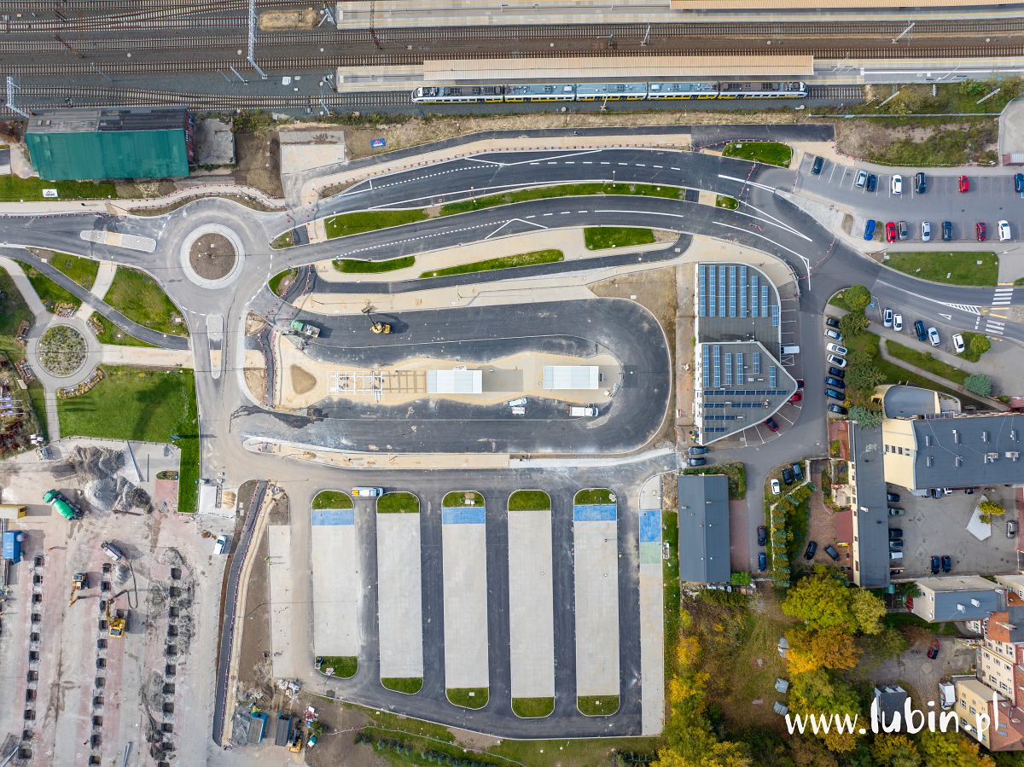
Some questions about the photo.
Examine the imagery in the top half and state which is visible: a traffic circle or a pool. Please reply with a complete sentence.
Looking in the top half, you will find a traffic circle.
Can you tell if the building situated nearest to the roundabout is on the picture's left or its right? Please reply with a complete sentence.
You can find the building situated nearest to the roundabout on the left side of the picture.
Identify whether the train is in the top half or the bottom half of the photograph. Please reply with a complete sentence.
The train sits in the top half of the picture.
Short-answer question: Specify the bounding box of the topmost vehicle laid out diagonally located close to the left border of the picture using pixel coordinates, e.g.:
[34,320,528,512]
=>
[41,487,81,519]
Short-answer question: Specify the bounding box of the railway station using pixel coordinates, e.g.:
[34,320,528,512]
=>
[337,0,1024,93]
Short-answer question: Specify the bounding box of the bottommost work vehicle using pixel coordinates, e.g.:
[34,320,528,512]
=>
[291,728,304,754]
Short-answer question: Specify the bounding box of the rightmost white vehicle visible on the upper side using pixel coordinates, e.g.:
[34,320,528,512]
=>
[997,219,1012,242]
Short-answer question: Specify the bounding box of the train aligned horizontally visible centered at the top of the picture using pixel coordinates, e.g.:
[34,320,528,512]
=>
[412,81,811,103]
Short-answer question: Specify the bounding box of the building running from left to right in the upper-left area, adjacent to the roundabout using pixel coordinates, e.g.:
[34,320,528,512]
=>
[25,106,198,180]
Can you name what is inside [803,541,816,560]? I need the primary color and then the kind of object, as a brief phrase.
black vehicle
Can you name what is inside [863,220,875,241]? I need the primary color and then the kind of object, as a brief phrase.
blue vehicle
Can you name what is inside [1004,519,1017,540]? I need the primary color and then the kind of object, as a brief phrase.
gray vehicle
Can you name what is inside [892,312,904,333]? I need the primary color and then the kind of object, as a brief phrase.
white vehicle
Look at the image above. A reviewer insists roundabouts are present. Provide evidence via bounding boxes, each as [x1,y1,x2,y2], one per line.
[153,197,272,315]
